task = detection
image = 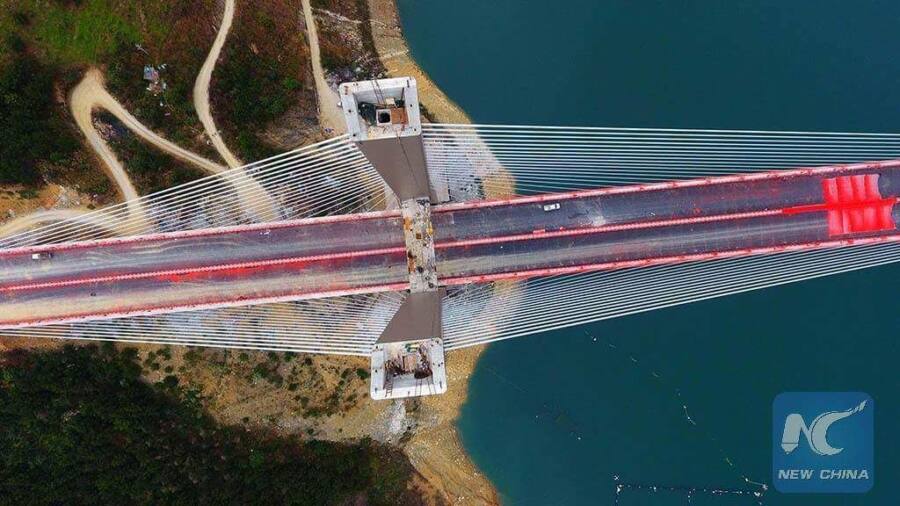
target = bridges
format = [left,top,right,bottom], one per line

[0,80,900,401]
